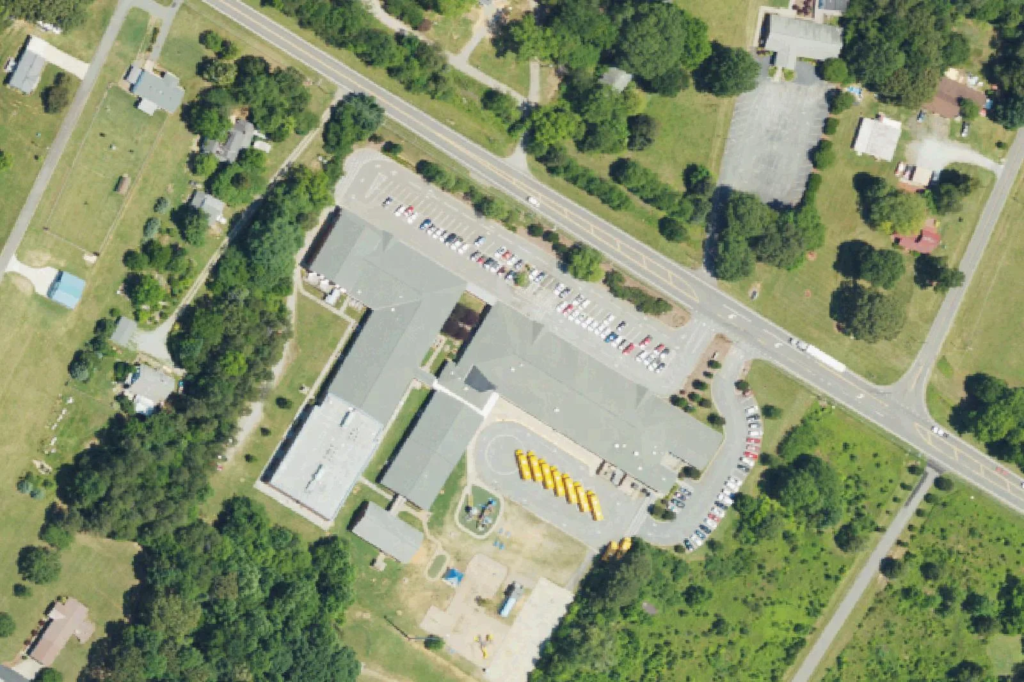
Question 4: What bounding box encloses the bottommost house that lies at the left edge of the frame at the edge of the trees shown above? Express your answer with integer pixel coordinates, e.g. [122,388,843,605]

[31,594,97,663]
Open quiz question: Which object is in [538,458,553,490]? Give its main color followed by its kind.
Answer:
yellow vehicle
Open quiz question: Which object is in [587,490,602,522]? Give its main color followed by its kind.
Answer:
yellow vehicle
